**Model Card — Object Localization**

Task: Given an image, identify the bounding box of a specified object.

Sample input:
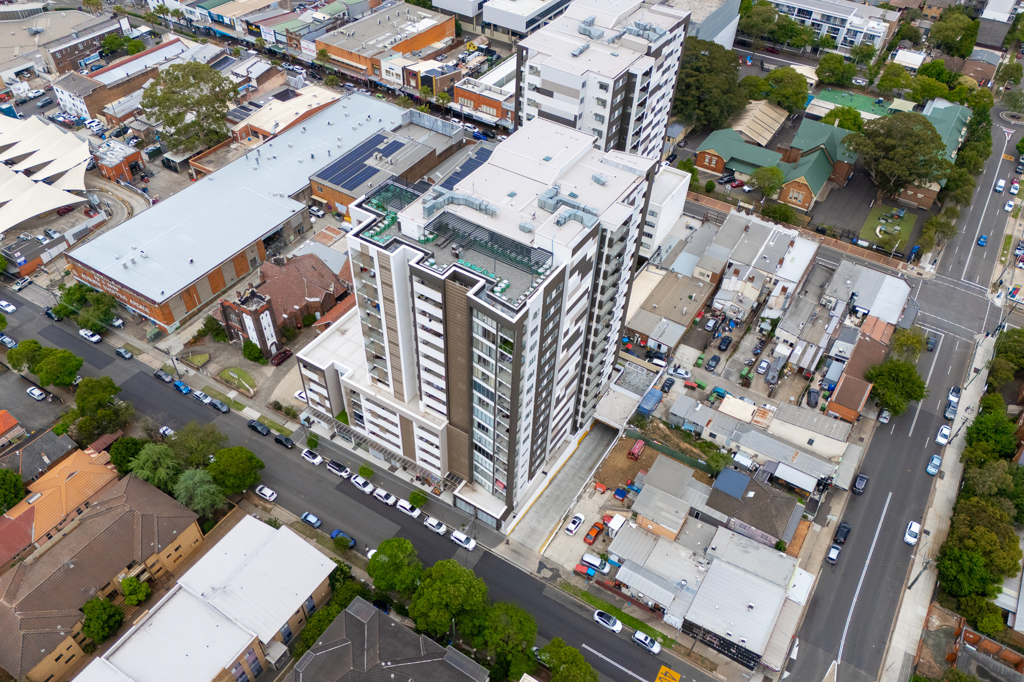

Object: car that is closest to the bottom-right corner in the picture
[903,520,922,547]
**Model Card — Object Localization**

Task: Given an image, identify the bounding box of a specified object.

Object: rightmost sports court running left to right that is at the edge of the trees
[818,86,891,108]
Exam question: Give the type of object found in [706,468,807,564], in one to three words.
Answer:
house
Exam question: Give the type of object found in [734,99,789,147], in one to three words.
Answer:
building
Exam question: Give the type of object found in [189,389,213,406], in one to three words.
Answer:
car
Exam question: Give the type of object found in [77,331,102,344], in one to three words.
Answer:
vehicle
